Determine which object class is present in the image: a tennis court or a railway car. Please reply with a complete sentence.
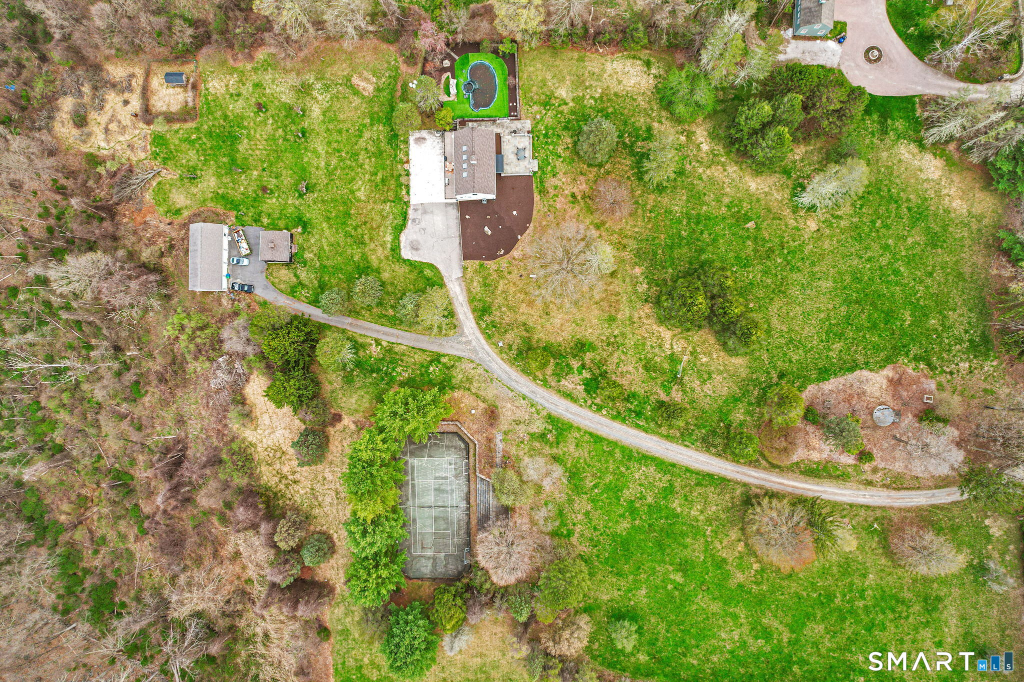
It is a tennis court that can be seen here.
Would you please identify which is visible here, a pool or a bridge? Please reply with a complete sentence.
It is a pool that can be seen here.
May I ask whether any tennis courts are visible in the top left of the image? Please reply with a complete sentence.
No, no tennis court appears in the top left of the image.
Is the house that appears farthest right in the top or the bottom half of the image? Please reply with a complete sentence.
You can find the house that appears farthest right in the top half.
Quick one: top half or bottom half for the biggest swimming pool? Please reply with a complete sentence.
The top half of the photo is where the biggest swimming pool is.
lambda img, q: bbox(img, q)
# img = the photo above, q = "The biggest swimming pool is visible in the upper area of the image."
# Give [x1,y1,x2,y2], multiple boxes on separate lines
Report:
[467,60,498,112]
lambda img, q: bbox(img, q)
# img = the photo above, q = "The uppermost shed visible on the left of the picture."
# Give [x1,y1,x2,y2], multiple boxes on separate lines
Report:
[163,72,189,92]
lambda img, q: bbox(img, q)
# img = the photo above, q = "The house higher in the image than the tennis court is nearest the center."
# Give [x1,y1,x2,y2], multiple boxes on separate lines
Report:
[453,126,504,199]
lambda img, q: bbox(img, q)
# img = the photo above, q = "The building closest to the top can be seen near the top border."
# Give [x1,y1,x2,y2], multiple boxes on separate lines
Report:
[790,0,834,37]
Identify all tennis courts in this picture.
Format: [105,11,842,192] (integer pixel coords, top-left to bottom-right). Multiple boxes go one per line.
[397,433,470,580]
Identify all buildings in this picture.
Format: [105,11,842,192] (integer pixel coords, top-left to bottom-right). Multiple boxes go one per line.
[163,72,189,92]
[260,230,294,263]
[453,126,504,199]
[790,0,834,37]
[189,221,228,290]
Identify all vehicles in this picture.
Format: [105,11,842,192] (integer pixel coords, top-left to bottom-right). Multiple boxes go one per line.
[229,256,249,266]
[229,282,254,292]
